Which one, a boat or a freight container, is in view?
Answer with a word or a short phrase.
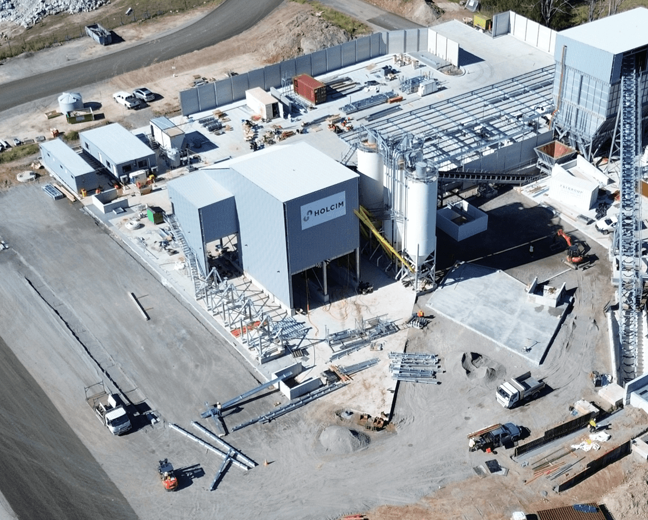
freight container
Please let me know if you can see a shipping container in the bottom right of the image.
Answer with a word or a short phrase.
No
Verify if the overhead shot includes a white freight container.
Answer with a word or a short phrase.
Yes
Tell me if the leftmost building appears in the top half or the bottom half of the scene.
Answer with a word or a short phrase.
top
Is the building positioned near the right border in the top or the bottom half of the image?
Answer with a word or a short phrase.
top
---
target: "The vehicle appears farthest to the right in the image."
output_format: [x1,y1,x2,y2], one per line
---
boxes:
[591,211,626,231]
